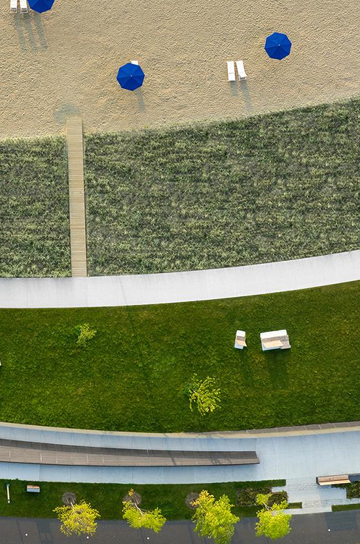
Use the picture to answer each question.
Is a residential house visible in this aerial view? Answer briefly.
No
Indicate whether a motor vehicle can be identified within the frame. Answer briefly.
No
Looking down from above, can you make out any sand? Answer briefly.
Yes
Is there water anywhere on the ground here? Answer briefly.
No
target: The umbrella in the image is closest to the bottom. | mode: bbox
[117,63,144,91]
